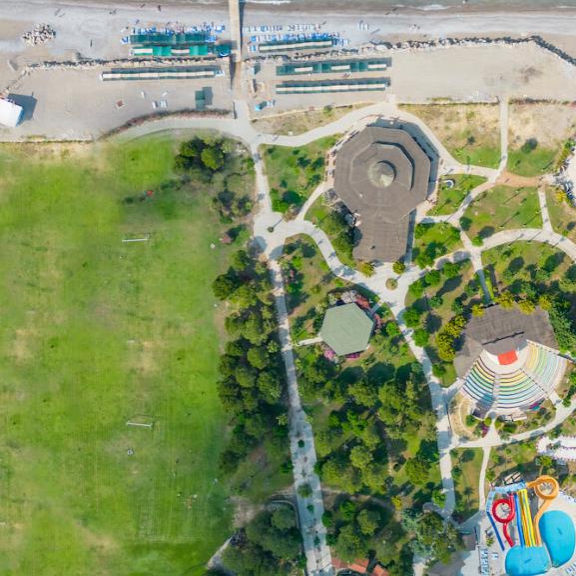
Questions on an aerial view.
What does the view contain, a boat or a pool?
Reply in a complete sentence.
Visible in the photo is a pool.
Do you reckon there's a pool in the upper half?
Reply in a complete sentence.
No, looking in the upper half, there is no pool.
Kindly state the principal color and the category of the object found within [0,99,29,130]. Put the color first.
white tent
